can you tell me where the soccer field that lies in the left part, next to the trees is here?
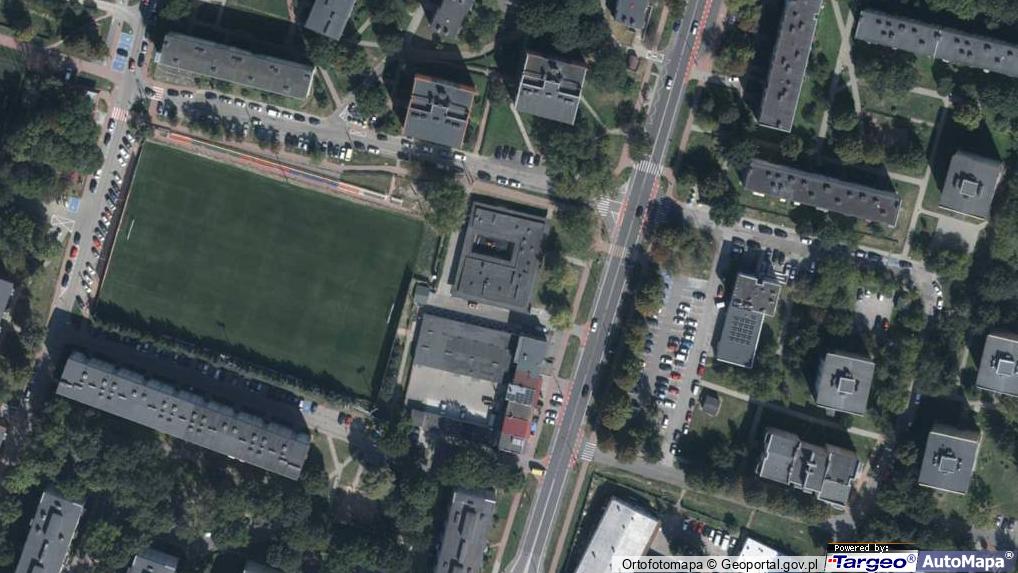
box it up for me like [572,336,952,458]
[91,139,424,402]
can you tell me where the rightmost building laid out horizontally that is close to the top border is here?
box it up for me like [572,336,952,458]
[855,7,1018,77]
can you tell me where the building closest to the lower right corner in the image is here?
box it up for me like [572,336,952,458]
[919,426,979,494]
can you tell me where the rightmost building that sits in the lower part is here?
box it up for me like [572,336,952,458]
[977,328,1018,397]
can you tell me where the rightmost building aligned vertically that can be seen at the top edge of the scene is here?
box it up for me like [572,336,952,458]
[757,0,824,132]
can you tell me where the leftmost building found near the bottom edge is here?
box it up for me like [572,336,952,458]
[13,487,89,573]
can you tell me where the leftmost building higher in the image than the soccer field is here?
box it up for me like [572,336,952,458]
[155,31,319,98]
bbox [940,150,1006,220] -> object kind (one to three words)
building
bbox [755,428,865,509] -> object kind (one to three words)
building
